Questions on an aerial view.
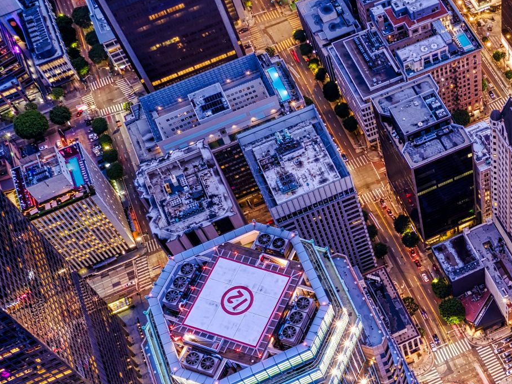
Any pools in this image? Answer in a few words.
Yes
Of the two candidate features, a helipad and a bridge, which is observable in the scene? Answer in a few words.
helipad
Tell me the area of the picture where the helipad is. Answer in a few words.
bottom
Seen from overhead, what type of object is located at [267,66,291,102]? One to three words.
swimming pool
